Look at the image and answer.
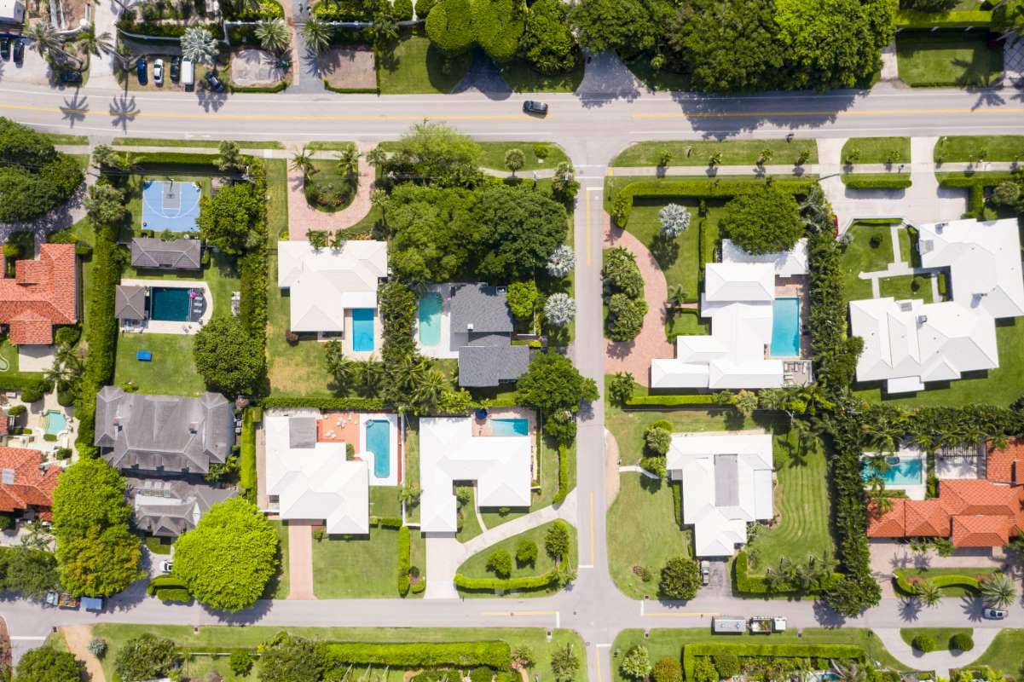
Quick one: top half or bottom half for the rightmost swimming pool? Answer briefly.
bottom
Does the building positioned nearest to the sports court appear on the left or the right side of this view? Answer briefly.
left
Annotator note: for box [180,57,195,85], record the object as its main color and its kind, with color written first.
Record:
white vehicle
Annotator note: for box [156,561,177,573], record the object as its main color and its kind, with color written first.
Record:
white vehicle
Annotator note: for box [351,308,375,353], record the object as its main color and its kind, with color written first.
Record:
blue swimming pool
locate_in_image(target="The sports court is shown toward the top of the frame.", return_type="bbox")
[142,181,201,232]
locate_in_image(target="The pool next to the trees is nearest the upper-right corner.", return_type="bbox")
[769,296,802,358]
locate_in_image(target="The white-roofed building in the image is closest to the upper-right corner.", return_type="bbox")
[845,217,1024,393]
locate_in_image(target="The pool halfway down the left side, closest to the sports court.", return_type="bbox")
[151,286,191,322]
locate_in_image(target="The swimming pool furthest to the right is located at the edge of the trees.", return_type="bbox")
[861,455,923,486]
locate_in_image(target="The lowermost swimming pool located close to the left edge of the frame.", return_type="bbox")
[40,408,68,436]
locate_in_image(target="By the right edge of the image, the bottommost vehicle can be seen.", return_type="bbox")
[981,607,1005,619]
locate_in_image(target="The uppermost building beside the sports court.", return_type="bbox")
[131,238,205,269]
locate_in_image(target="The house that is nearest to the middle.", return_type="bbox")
[439,283,529,386]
